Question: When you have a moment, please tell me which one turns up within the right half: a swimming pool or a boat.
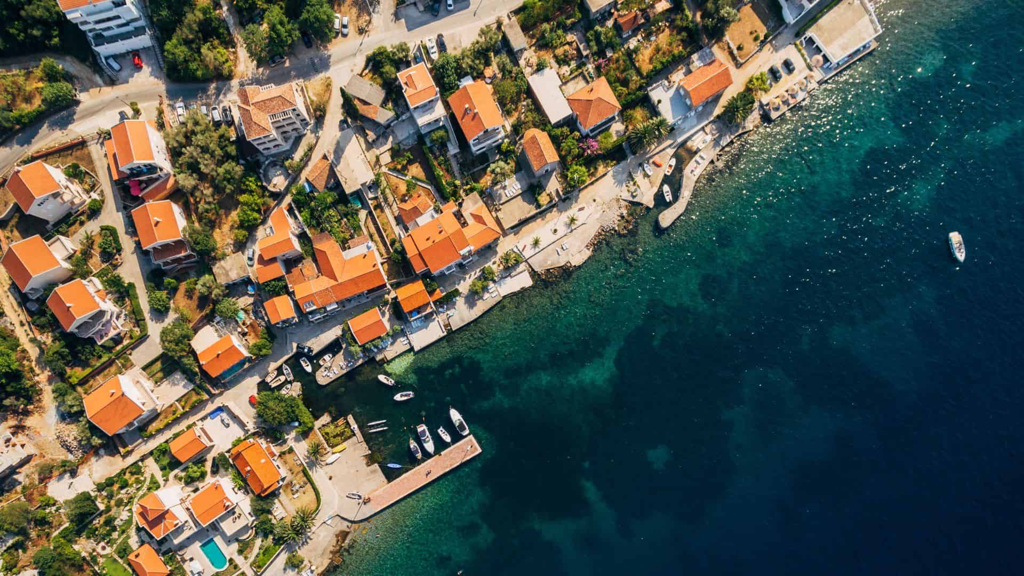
boat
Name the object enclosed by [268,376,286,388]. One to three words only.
boat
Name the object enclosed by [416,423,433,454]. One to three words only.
boat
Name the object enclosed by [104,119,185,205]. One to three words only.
house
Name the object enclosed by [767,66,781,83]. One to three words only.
car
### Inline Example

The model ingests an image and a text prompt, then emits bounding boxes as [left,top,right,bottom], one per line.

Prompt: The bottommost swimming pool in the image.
[196,535,228,572]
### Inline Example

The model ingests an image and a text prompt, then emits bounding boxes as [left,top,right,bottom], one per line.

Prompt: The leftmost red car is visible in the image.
[131,52,144,69]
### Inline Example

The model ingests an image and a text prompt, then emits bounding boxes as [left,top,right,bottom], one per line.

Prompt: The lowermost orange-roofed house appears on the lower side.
[127,542,175,576]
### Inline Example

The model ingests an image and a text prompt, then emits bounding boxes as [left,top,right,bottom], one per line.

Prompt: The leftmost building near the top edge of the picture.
[59,0,159,56]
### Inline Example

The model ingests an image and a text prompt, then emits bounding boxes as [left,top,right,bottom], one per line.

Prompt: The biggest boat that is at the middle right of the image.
[948,231,966,262]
